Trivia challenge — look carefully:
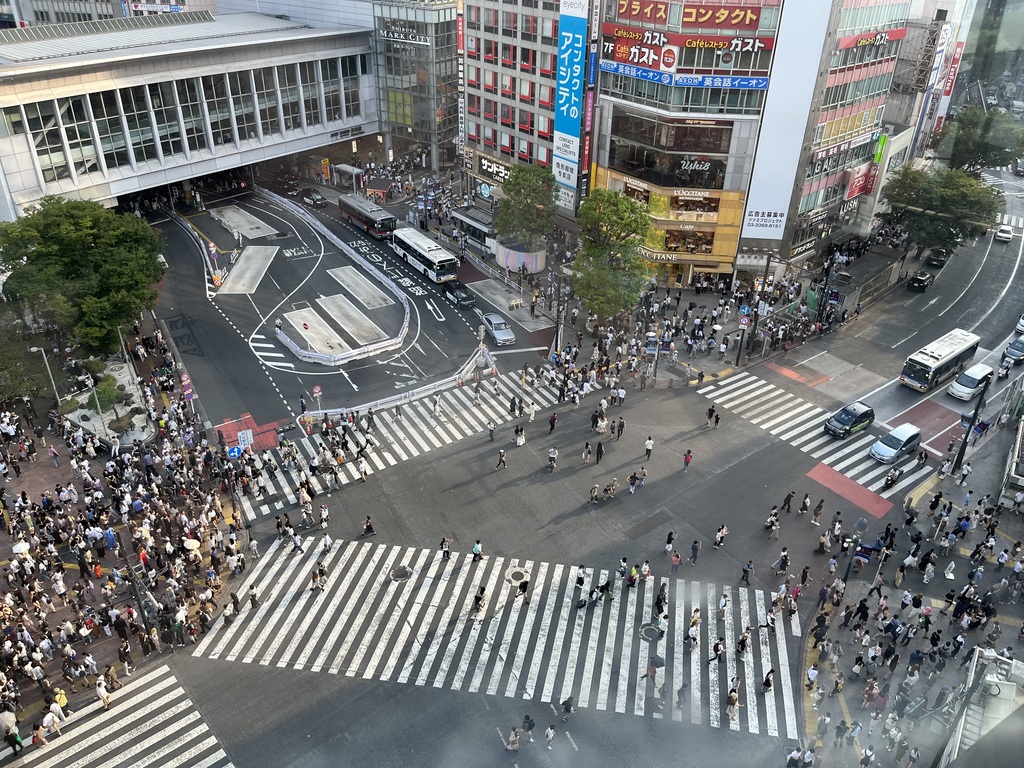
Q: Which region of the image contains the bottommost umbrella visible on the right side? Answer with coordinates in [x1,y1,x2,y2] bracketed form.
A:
[651,650,676,672]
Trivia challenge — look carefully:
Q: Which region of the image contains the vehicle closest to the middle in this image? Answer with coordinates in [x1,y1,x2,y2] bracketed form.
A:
[477,311,518,344]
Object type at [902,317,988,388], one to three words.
bus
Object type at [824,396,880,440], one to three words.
car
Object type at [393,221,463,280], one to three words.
bus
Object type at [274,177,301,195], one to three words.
car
